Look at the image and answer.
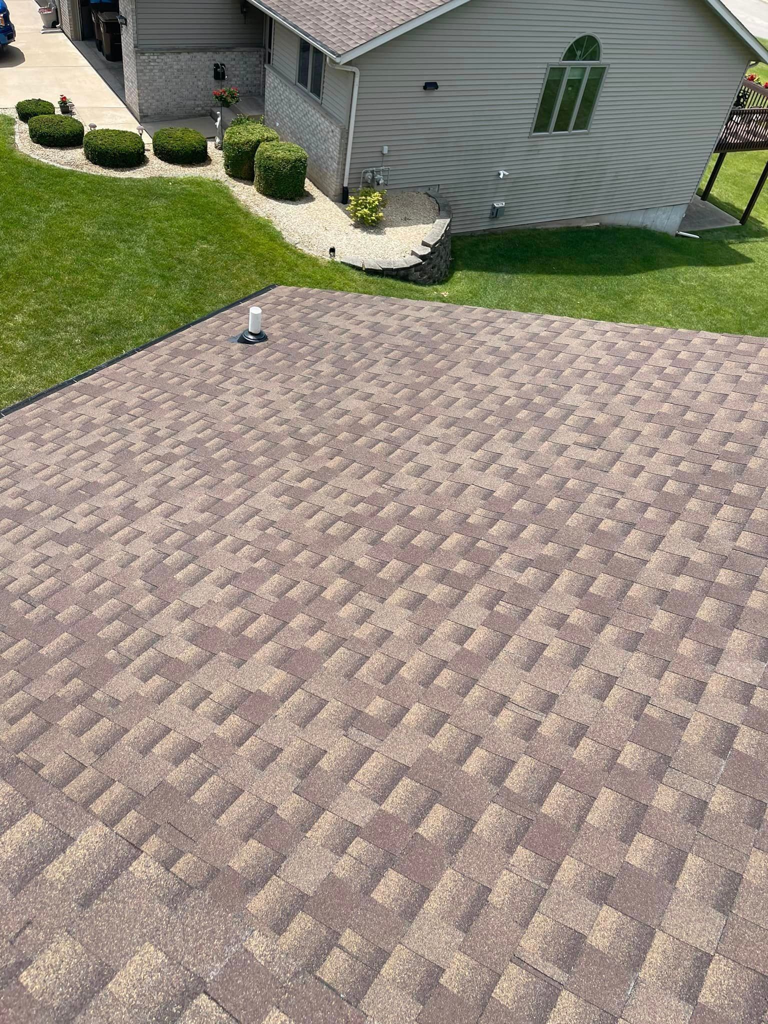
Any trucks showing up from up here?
No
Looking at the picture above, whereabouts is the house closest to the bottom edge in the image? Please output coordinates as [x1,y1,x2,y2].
[0,282,768,1024]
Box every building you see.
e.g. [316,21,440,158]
[35,0,768,236]
[0,282,768,1024]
